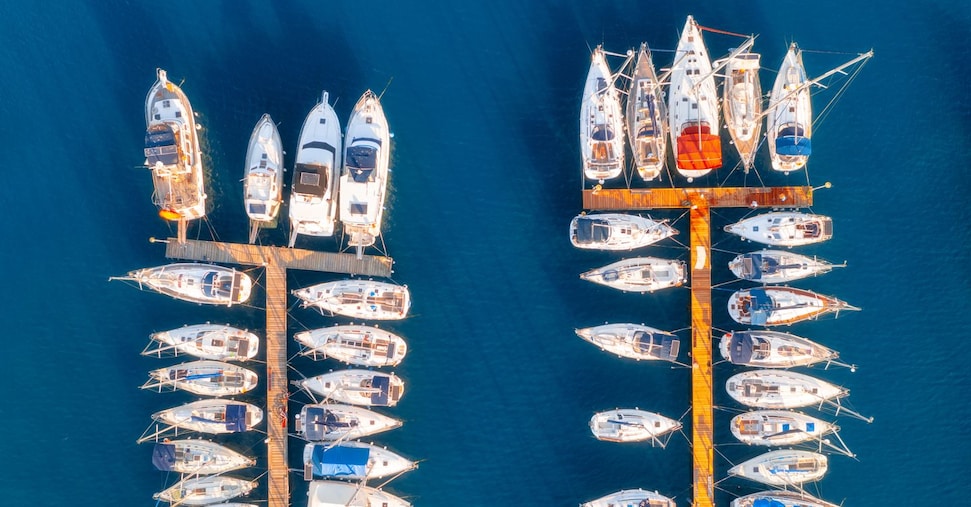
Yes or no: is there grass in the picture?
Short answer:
No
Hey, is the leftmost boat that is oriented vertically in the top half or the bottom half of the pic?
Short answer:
top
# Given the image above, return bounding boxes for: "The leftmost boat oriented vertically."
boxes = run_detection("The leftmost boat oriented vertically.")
[130,66,213,244]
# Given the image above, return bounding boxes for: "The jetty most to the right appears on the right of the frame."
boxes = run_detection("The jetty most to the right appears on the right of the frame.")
[583,187,812,507]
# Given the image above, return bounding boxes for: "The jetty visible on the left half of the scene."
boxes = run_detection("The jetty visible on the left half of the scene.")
[166,238,394,507]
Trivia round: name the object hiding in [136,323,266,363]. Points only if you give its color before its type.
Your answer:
white boat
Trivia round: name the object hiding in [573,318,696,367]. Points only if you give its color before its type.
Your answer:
white boat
